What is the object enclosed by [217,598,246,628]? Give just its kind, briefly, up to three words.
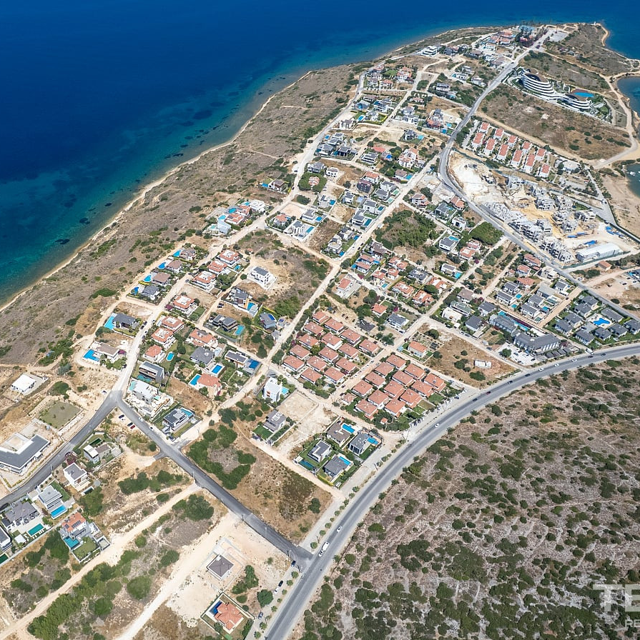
house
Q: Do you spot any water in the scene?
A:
Yes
